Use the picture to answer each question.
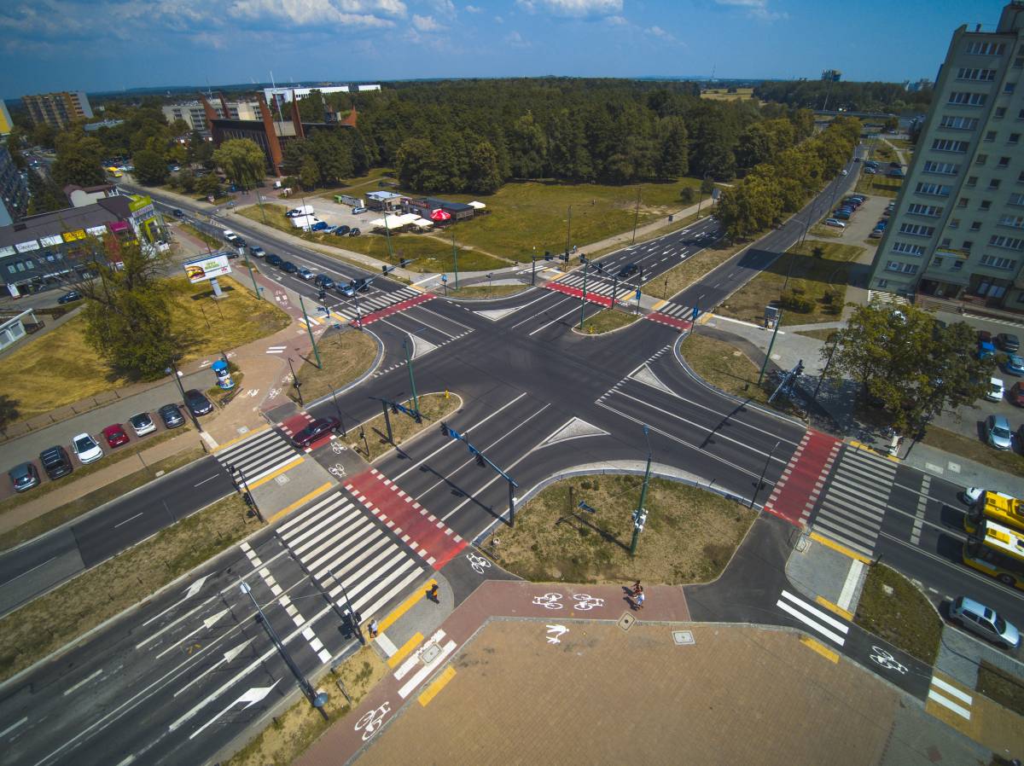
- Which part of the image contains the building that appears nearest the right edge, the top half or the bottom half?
top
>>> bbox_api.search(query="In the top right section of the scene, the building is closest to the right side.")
[869,0,1024,315]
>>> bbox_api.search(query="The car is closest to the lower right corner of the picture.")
[940,598,1024,653]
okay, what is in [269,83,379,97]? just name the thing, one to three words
building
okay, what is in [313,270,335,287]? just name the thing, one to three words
car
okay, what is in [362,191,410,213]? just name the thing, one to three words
shed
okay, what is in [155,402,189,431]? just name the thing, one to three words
car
